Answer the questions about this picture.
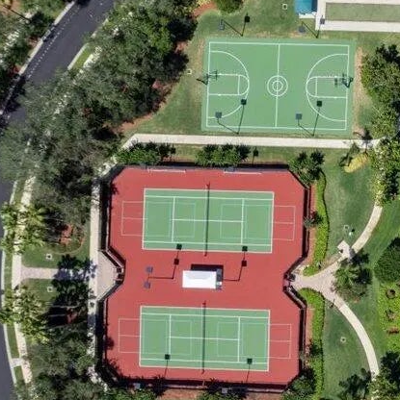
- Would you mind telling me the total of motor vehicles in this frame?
none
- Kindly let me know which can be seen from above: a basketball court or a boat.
basketball court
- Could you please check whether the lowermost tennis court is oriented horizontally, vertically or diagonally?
horizontally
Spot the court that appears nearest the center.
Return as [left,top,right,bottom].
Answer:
[121,184,294,256]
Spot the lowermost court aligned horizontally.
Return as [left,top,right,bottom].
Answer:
[119,303,290,374]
